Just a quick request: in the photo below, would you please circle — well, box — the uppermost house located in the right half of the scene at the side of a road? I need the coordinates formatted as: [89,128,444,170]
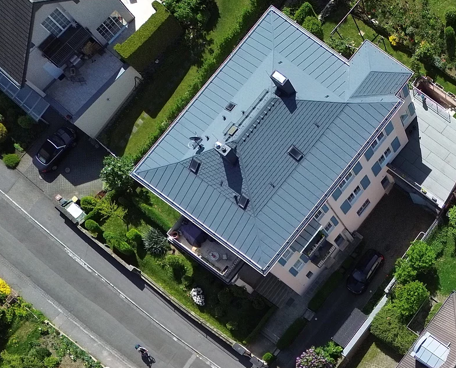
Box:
[128,3,456,315]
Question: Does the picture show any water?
No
